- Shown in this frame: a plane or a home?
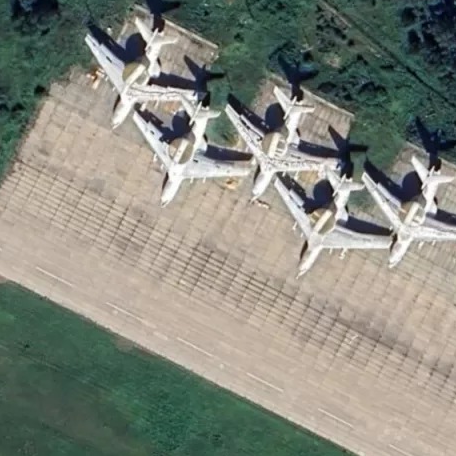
plane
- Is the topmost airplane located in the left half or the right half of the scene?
left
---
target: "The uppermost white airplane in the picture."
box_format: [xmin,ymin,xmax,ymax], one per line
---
[85,18,203,133]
